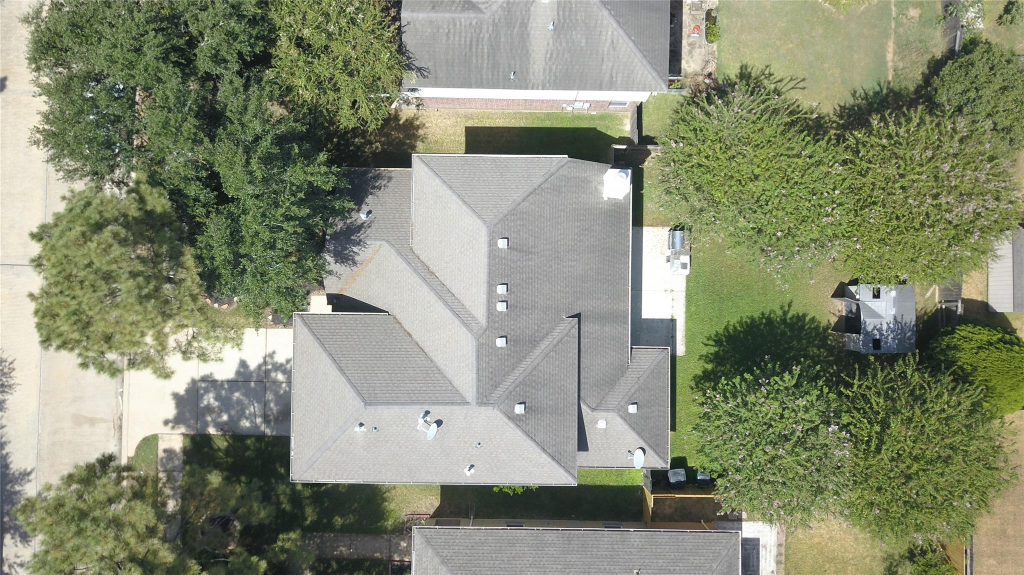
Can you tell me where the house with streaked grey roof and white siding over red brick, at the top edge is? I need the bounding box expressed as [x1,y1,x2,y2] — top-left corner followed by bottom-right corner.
[398,0,671,114]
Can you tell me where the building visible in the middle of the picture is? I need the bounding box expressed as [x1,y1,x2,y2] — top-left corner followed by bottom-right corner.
[289,153,672,487]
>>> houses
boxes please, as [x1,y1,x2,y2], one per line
[398,0,671,114]
[289,153,672,487]
[410,512,744,575]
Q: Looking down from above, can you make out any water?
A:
No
